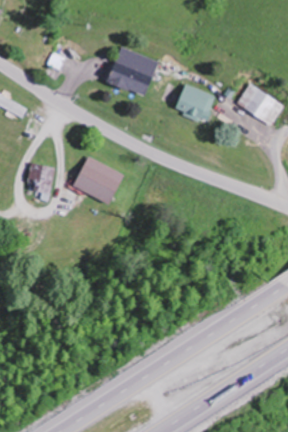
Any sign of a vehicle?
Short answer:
Yes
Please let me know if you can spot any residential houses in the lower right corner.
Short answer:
No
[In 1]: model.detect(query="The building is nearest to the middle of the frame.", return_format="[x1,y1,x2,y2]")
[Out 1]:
[70,156,124,204]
